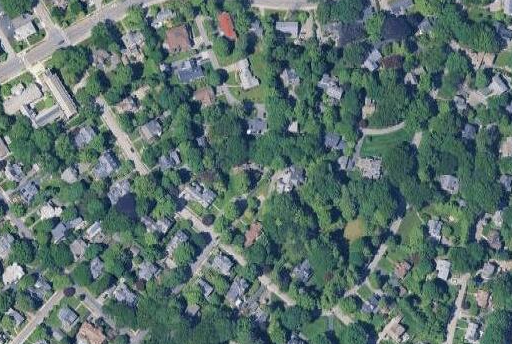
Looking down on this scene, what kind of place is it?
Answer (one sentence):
The area seen from above is a residential area.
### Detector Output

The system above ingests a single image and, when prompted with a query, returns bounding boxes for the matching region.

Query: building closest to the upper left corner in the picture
[12,18,38,41]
